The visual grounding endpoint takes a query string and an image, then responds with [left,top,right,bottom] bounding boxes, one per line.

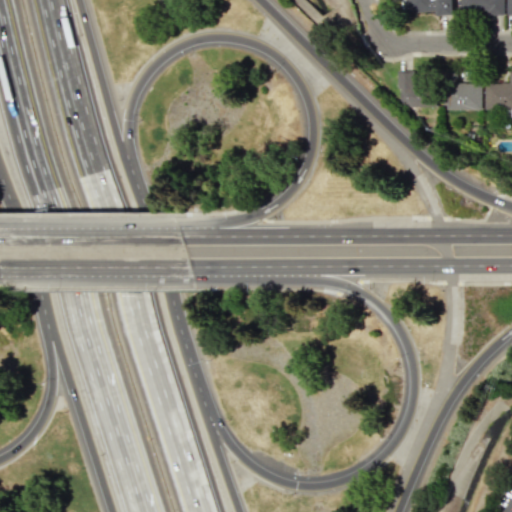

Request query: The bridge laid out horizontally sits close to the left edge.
[0,212,191,291]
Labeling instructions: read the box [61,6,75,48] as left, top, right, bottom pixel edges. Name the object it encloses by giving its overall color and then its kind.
white vehicle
